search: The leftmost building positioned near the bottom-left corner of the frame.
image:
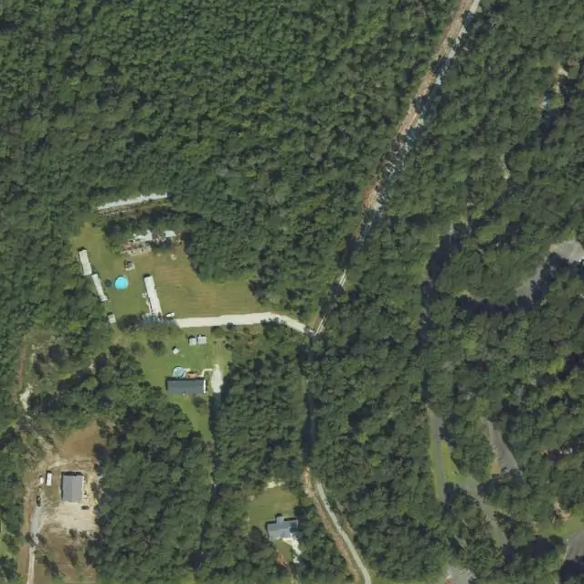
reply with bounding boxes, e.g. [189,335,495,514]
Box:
[62,476,83,503]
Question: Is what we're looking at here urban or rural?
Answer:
rural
